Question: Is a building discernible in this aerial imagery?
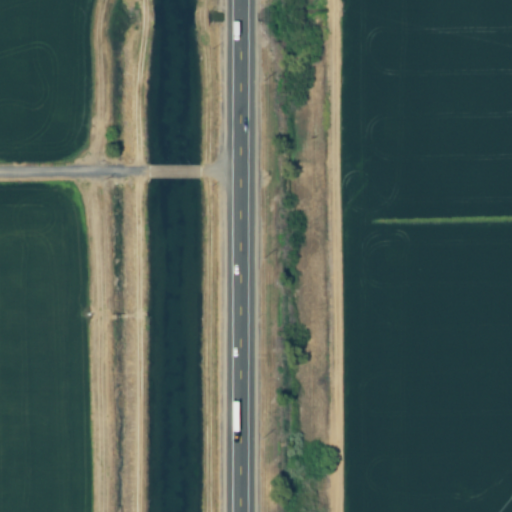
No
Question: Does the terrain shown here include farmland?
Yes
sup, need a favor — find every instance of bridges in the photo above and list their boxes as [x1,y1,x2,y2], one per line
[148,164,204,178]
